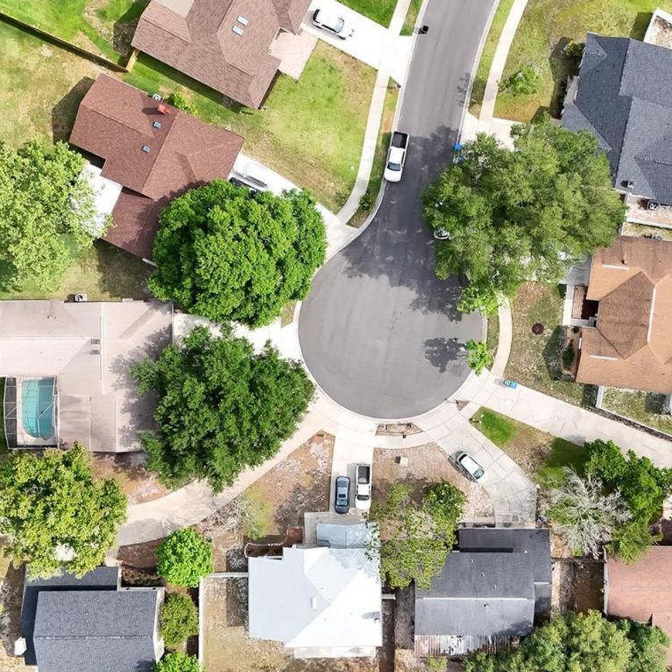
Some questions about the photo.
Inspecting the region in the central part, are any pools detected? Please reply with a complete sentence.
No, I see no pool in the central part.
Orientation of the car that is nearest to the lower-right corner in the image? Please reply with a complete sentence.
In this picture, the car that is nearest to the lower-right corner is oriented at an angle.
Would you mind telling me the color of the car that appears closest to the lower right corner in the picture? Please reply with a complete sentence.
From above, the car that appears closest to the lower right corner appears white.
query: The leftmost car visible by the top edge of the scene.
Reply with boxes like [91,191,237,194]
[308,7,349,38]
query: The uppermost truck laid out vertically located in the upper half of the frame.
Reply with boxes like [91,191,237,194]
[384,130,406,182]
